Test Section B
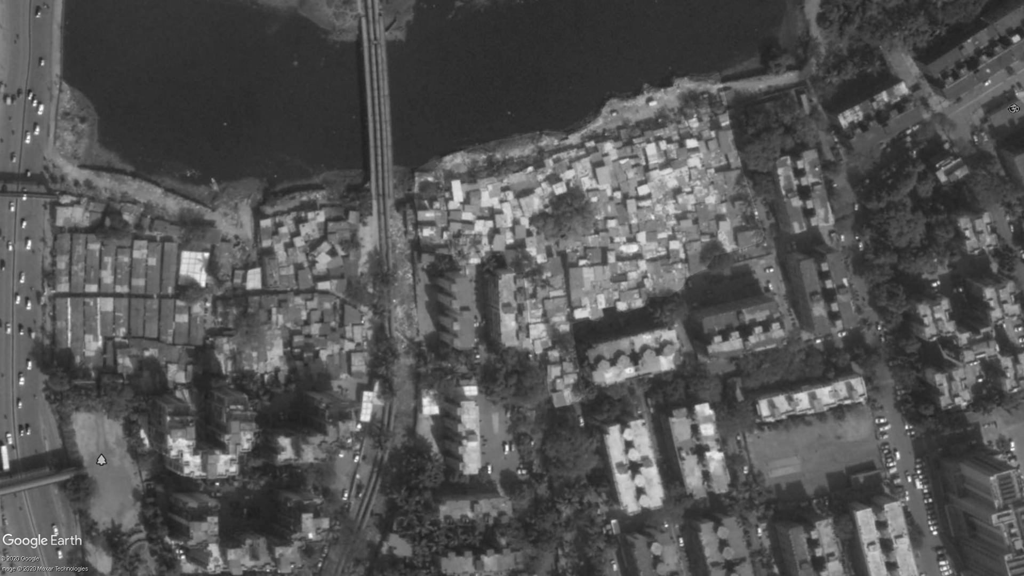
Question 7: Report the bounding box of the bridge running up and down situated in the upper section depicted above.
[361,0,394,277]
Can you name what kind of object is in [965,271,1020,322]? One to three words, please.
building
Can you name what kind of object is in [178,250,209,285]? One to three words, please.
shed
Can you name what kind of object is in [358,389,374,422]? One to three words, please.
shed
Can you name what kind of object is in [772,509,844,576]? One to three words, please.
building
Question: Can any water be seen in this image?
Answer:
Yes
